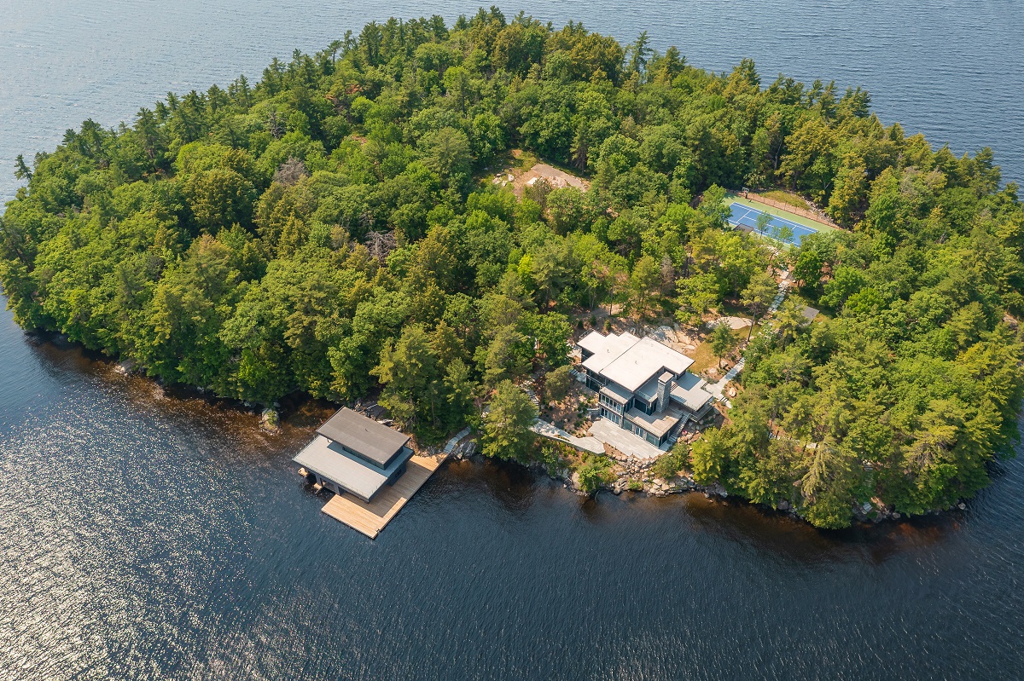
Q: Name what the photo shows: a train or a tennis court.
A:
tennis court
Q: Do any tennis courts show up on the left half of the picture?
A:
No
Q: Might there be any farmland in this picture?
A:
No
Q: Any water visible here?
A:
Yes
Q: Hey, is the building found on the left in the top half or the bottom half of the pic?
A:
bottom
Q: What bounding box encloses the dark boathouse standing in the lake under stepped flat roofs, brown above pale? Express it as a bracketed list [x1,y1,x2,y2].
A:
[292,407,413,501]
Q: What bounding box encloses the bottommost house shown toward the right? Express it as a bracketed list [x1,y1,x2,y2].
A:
[573,331,725,447]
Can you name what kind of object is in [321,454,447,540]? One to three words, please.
pier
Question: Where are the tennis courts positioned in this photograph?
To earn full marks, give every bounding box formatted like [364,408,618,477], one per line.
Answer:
[705,192,835,256]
